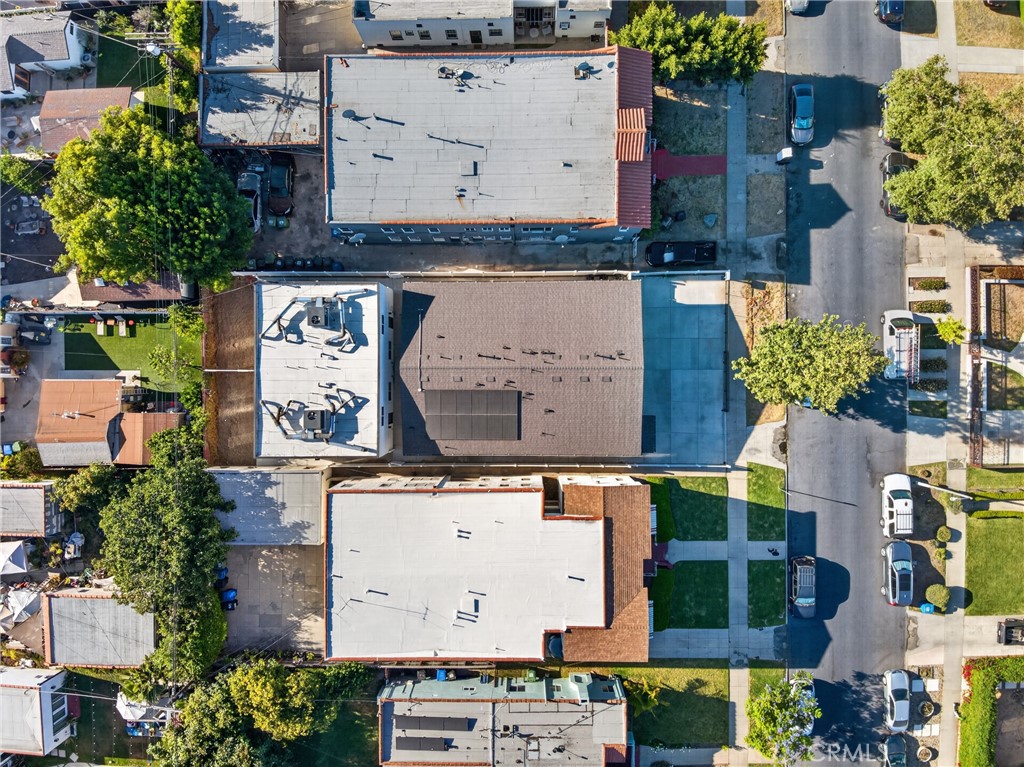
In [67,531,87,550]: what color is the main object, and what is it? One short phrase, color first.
blue umbrella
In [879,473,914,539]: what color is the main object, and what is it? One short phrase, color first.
white car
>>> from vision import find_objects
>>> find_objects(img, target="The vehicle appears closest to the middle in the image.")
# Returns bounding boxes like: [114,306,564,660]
[645,238,718,268]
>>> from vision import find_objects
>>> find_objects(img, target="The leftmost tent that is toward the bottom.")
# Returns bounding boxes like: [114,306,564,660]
[0,538,45,573]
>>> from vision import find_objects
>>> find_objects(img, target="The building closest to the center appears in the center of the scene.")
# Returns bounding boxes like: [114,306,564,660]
[398,278,646,460]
